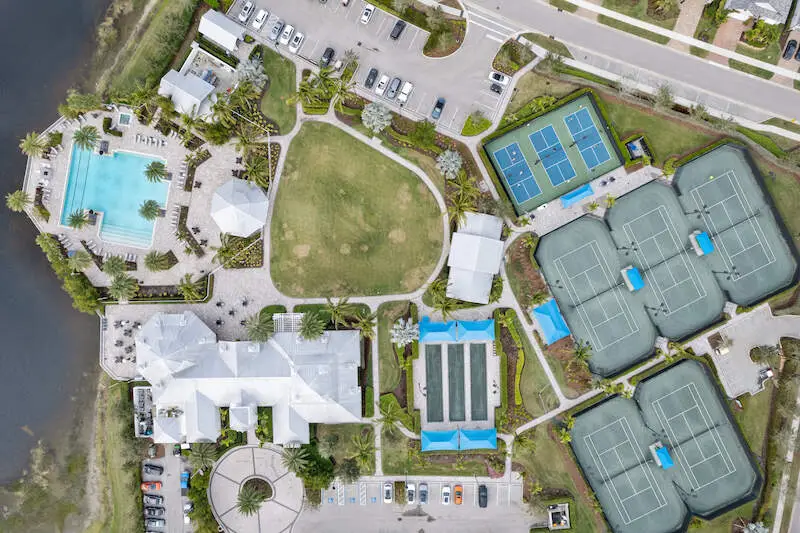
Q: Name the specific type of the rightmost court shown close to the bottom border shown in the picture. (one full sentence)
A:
I'd identify the rightmost court shown close to the bottom border as a tennis court.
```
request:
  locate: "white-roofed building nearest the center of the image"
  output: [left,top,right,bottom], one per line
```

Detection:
[446,211,505,304]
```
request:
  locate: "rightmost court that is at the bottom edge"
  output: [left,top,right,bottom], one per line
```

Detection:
[638,361,759,515]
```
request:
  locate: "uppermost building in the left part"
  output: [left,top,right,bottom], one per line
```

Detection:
[198,9,245,54]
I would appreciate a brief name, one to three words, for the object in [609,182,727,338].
tennis court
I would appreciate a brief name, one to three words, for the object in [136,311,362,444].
building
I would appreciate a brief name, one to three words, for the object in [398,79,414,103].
vehicle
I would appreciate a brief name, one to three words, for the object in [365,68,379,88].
car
